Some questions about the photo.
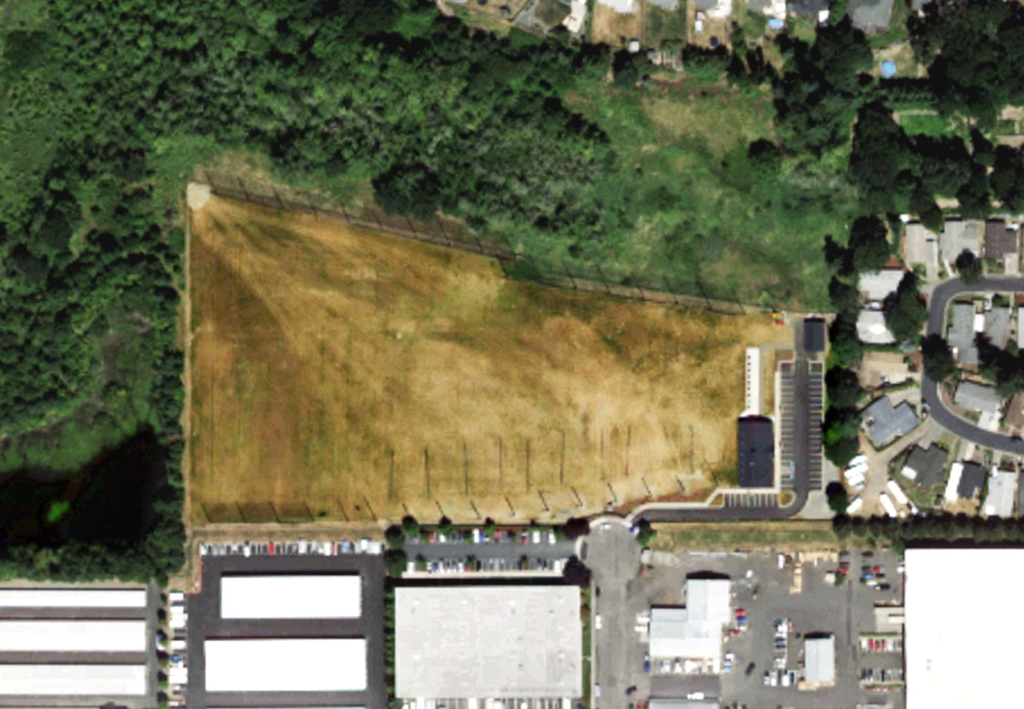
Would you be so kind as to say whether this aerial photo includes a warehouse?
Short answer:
Yes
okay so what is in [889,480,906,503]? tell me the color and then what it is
white camper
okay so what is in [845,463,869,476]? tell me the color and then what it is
white vehicle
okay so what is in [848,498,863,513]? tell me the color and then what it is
white camper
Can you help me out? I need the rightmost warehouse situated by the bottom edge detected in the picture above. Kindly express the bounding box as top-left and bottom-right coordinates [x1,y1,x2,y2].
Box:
[905,549,1024,709]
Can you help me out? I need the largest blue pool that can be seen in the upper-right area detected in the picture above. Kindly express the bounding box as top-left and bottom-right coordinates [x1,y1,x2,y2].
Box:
[881,60,895,74]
